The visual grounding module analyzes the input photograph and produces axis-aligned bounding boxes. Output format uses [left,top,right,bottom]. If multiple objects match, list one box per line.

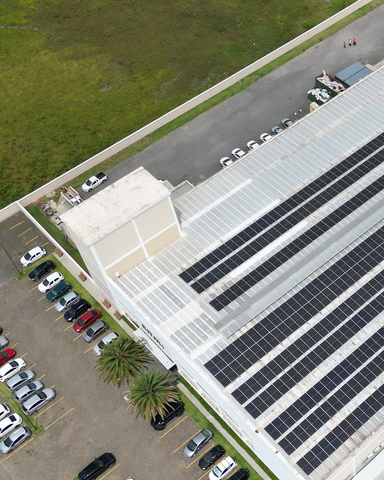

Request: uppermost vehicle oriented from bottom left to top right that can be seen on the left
[82,172,110,193]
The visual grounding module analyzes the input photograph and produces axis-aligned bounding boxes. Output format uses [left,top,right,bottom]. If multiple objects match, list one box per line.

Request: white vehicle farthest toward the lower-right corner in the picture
[206,455,239,480]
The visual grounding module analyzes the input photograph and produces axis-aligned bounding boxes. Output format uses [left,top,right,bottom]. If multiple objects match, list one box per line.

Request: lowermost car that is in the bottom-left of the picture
[77,452,114,480]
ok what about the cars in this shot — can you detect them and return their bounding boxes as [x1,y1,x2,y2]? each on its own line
[196,443,226,473]
[206,455,239,480]
[71,308,103,333]
[77,452,114,480]
[46,280,73,302]
[92,331,118,355]
[281,118,294,127]
[269,125,283,134]
[0,426,32,455]
[0,355,29,382]
[5,370,37,395]
[0,403,14,421]
[13,382,45,407]
[20,247,45,268]
[0,347,20,368]
[232,149,244,158]
[220,157,233,166]
[246,140,259,150]
[54,290,83,313]
[258,133,271,142]
[0,413,23,441]
[181,429,213,459]
[38,272,65,293]
[0,336,12,352]
[62,298,93,324]
[82,318,112,343]
[28,258,59,283]
[227,466,253,480]
[21,389,57,418]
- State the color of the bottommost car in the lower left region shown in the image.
black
